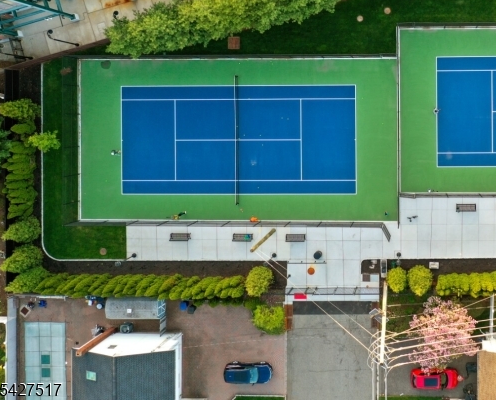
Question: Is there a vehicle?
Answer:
Yes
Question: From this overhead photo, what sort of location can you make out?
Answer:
sports ground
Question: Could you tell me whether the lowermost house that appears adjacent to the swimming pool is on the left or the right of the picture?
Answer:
left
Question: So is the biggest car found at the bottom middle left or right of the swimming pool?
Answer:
right of it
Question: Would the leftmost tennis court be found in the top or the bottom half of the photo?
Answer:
top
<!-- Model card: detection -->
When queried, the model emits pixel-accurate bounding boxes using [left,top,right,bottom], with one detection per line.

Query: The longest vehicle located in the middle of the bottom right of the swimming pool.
[222,362,272,388]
